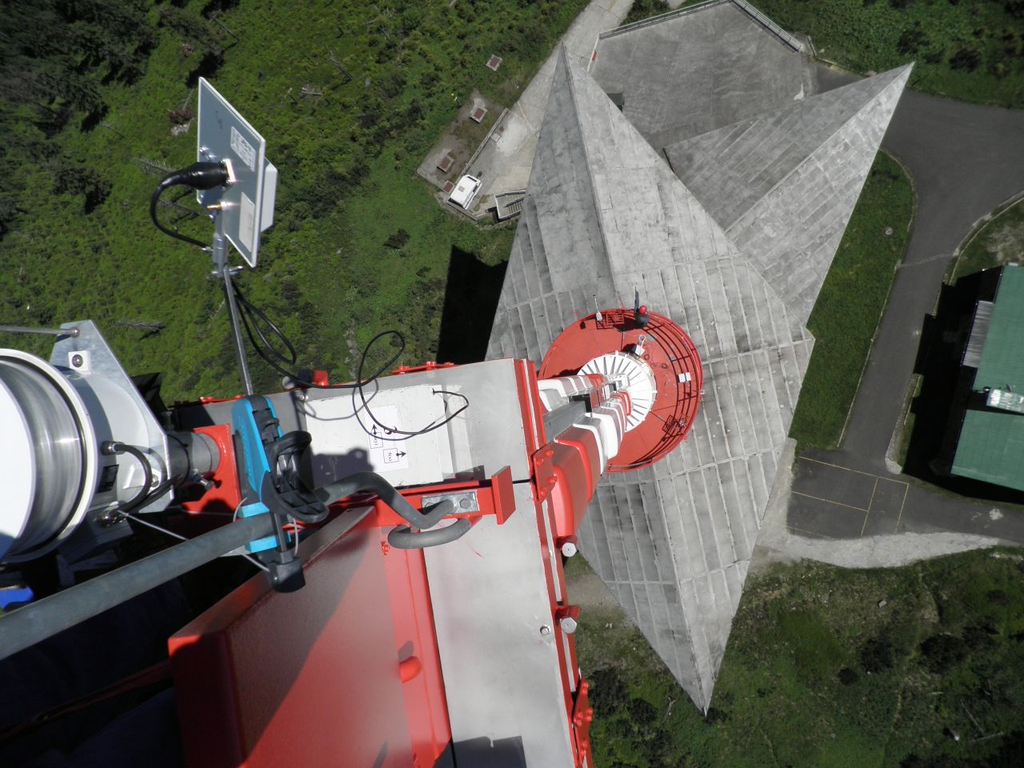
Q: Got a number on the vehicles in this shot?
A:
1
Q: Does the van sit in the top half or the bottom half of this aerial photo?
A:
top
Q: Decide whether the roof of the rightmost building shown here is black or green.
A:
green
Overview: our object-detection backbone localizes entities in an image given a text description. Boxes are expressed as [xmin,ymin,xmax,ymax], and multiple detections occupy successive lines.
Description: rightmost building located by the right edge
[930,264,1024,493]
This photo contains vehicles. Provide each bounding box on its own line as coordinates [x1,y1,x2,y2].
[446,171,479,211]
